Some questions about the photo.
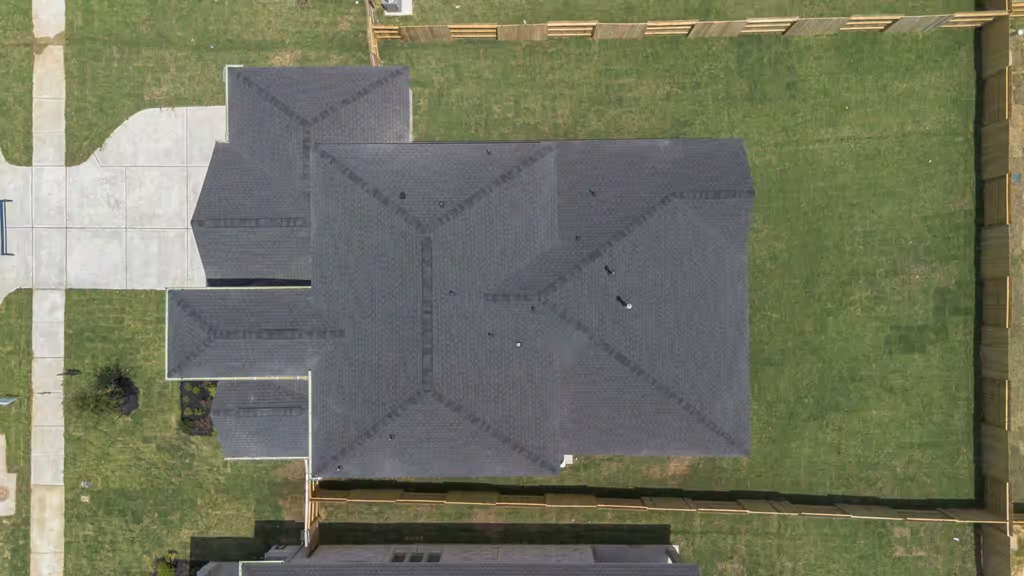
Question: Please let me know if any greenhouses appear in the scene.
No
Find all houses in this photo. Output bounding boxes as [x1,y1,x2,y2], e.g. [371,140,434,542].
[165,64,756,480]
[207,544,702,576]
